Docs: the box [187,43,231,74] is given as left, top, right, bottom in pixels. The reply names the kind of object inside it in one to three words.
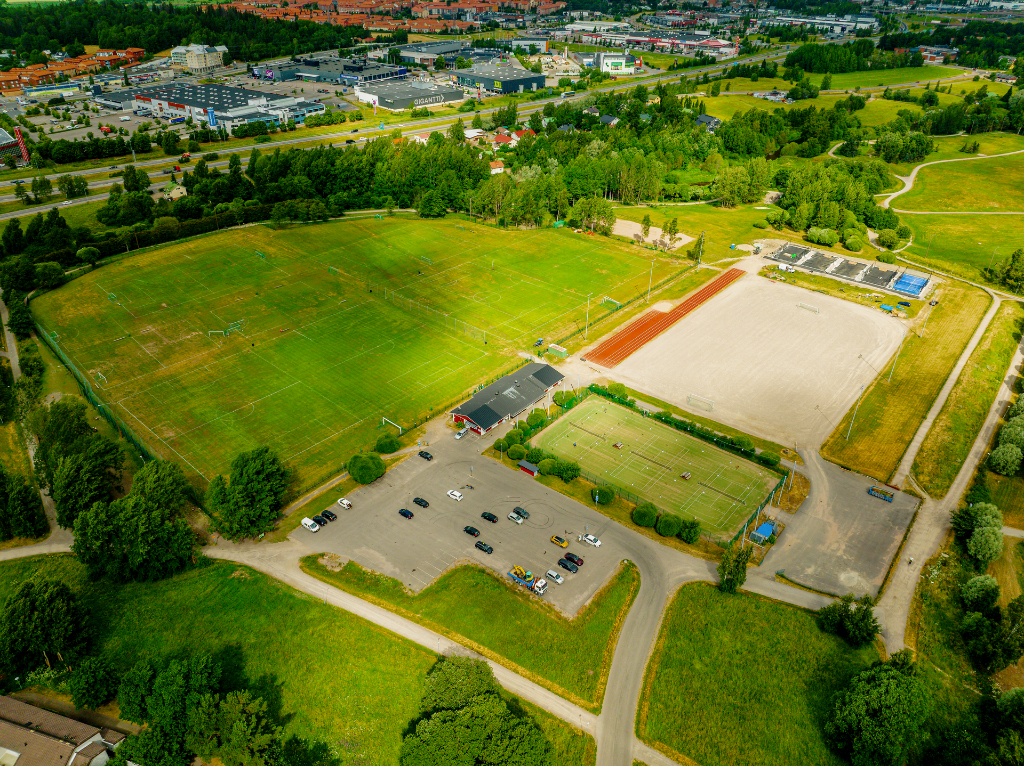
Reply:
building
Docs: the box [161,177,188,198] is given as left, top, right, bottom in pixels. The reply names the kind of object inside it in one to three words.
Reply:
house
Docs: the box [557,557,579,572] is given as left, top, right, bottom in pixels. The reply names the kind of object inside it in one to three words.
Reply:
car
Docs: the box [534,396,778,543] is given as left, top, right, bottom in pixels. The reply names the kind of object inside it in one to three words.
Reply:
sports court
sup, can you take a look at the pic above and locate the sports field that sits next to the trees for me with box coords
[32,214,697,533]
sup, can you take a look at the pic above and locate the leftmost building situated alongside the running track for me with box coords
[450,362,565,437]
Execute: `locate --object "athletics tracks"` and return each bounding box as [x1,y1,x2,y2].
[583,268,743,368]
